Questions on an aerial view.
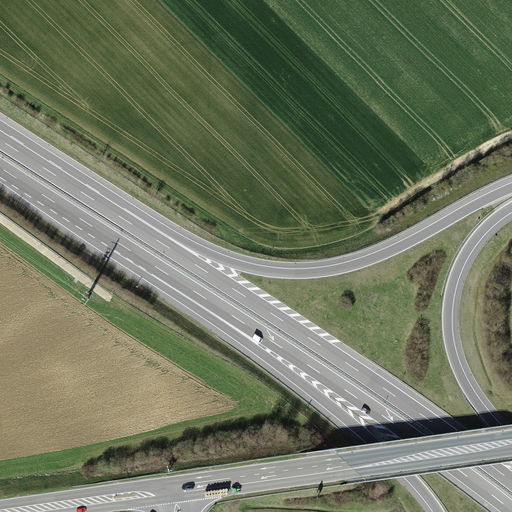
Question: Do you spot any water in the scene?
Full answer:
No, there's no water in this view.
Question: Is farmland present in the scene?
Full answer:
Yes, farmland can be seen from above here.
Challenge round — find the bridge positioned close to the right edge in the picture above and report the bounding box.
[329,426,512,484]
